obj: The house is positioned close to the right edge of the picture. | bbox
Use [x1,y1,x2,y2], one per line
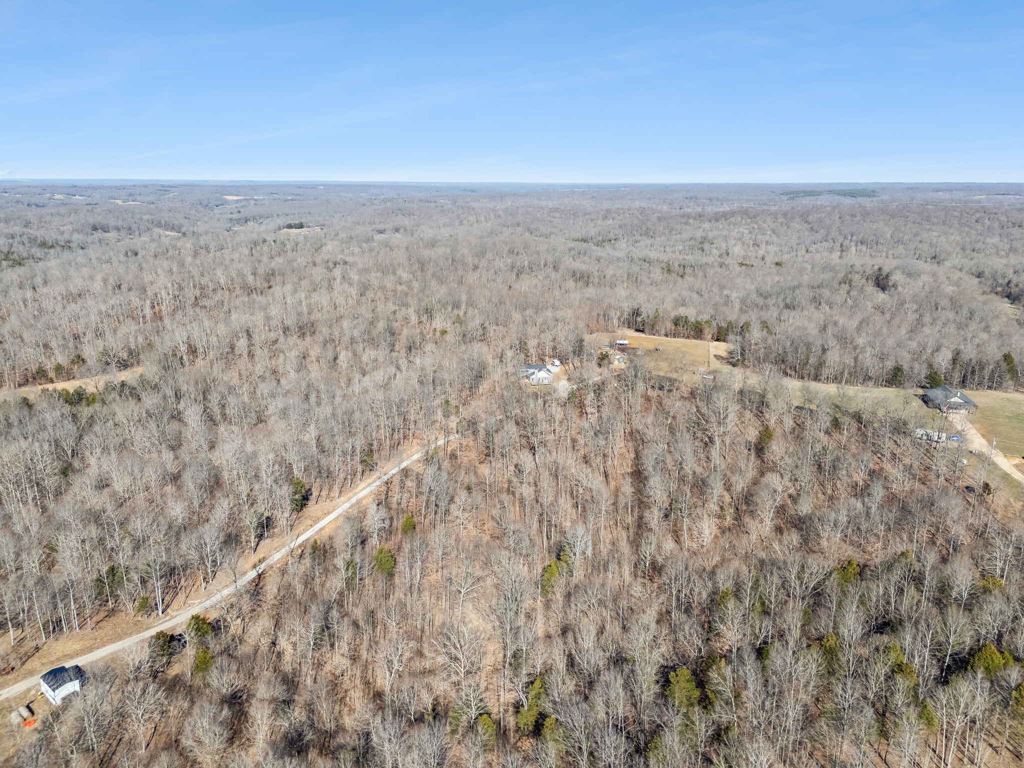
[922,386,980,416]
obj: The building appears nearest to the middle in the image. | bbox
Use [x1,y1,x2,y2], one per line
[513,362,554,386]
